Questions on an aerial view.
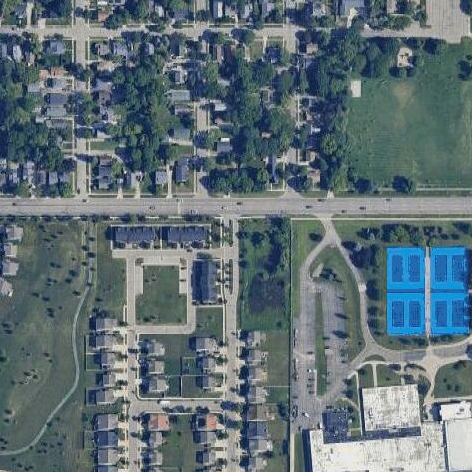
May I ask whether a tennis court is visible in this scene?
Yes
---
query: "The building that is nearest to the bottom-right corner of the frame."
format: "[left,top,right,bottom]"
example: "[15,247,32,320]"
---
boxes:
[310,383,472,472]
